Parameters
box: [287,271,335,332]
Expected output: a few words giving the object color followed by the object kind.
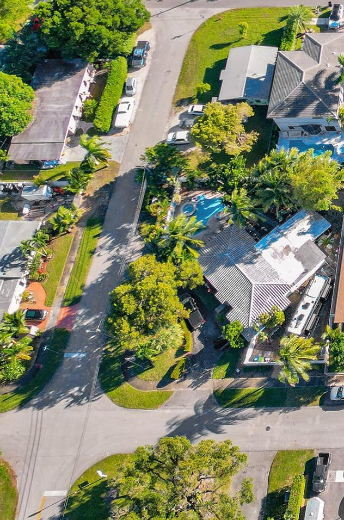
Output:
white camper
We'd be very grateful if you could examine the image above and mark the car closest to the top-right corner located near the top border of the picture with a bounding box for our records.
[329,5,343,28]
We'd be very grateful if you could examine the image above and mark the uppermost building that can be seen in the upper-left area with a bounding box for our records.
[7,58,95,165]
